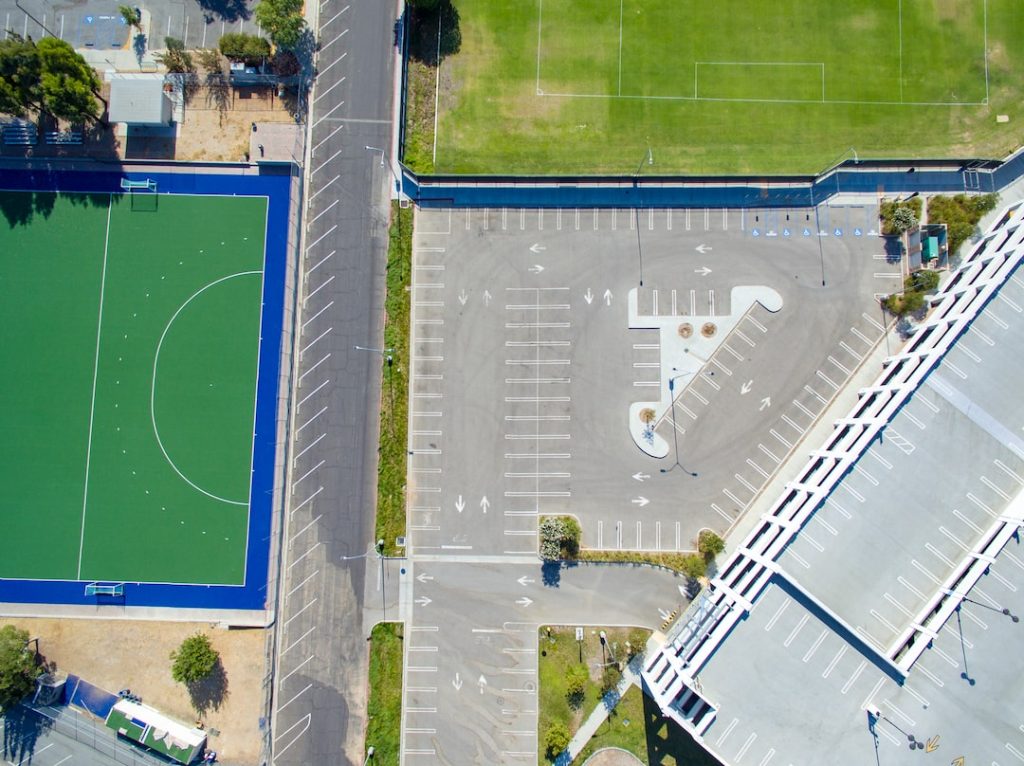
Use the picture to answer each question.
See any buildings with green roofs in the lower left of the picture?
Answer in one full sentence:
Yes, a building with a green roof is visible in the lower left of the picture.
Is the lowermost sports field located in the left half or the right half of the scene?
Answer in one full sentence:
You can find the lowermost sports field on the left side of the picture.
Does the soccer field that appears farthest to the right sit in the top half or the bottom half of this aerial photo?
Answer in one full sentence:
The soccer field that appears farthest to the right is in the top half of the image.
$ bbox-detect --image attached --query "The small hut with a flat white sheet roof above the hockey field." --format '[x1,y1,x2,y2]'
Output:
[109,80,175,137]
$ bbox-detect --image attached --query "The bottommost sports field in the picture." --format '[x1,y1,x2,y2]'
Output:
[0,170,290,608]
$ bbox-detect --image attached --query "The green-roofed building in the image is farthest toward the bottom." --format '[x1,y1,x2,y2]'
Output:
[104,700,210,766]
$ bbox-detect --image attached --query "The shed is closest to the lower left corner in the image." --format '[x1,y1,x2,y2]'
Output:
[23,668,69,711]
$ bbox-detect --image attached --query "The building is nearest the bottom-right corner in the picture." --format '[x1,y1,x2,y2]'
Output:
[642,204,1024,766]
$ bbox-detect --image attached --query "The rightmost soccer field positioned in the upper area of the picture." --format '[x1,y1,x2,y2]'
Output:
[426,0,1024,182]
